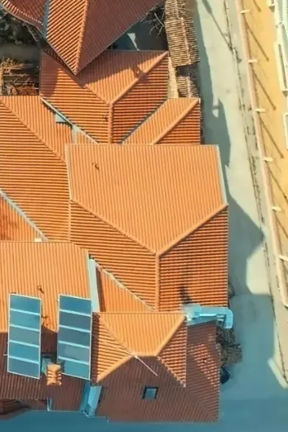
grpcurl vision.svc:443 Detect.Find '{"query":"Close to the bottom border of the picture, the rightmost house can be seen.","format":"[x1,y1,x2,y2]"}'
[83,310,221,424]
